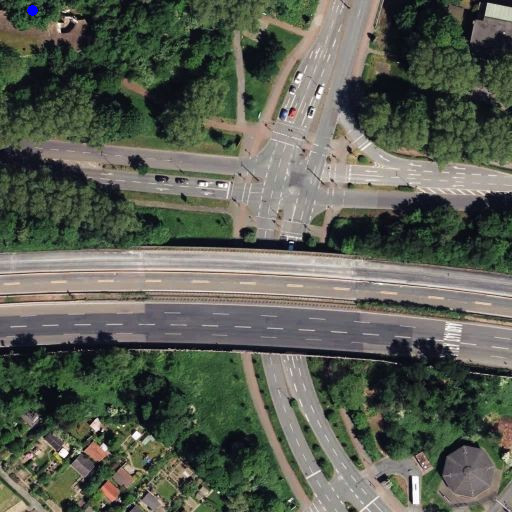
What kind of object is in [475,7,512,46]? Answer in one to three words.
building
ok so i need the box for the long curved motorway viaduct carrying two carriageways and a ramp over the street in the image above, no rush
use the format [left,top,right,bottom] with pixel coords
[0,248,512,380]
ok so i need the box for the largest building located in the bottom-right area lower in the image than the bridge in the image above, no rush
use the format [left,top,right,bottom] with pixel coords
[442,444,494,496]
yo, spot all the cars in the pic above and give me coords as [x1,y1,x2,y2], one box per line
[280,108,287,120]
[294,71,302,84]
[308,106,315,118]
[216,182,228,188]
[290,107,296,118]
[316,84,324,98]
[288,242,294,251]
[156,176,168,182]
[176,178,188,184]
[290,84,296,94]
[197,180,208,186]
